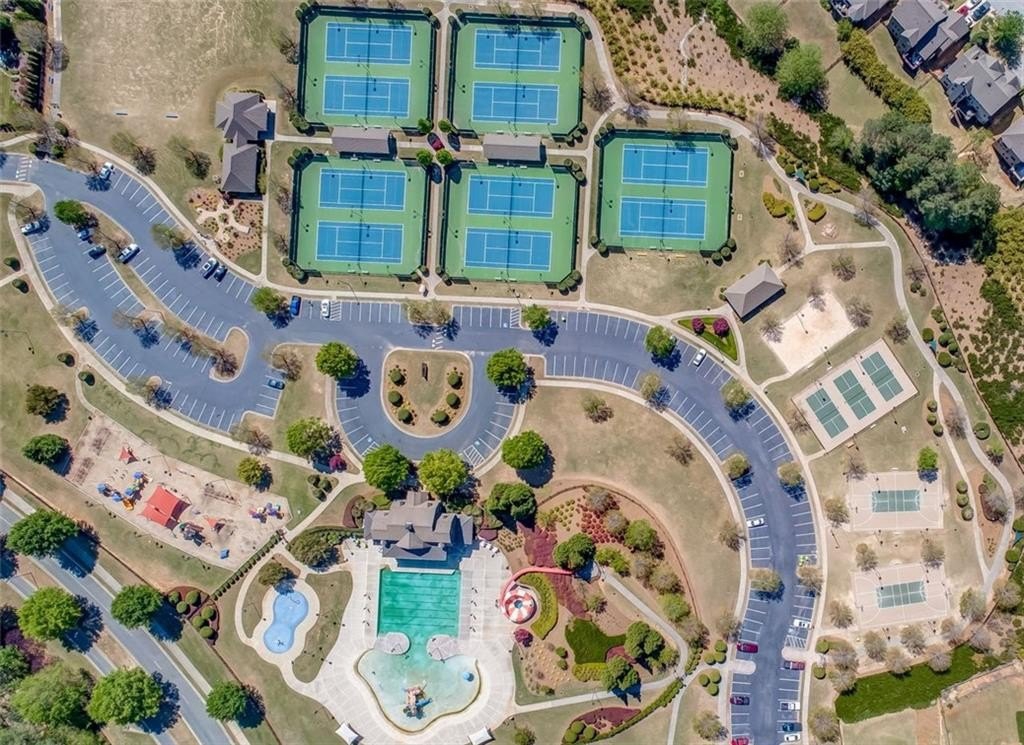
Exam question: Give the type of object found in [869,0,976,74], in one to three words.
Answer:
house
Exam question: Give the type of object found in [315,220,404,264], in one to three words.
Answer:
tennis court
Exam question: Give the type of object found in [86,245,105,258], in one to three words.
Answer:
vehicle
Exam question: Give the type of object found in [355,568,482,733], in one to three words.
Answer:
swimming pool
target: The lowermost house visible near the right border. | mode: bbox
[977,112,1024,189]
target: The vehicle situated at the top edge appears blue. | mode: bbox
[974,2,990,19]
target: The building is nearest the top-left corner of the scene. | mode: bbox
[216,94,270,193]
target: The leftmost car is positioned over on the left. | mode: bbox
[20,221,39,234]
